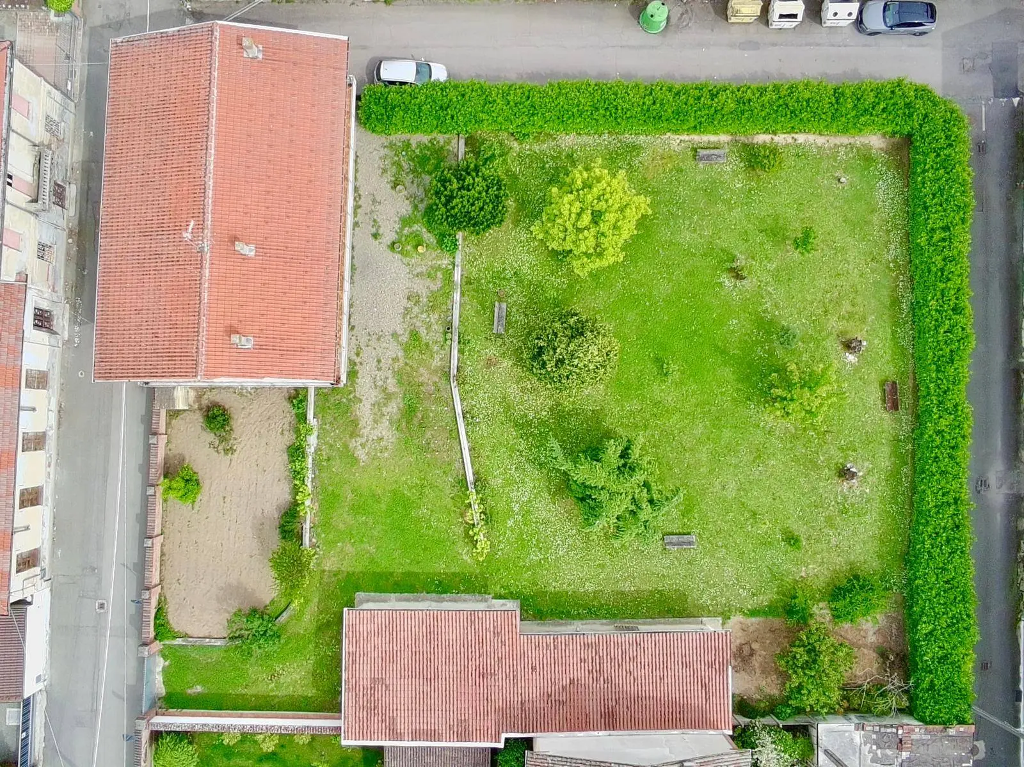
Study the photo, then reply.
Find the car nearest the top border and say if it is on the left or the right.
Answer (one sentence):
The car nearest the top border is on the right side of the image.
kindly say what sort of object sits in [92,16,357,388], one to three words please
house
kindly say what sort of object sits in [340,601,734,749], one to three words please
house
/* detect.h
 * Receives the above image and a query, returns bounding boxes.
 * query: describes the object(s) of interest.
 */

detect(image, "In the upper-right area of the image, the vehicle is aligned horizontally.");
[853,0,935,37]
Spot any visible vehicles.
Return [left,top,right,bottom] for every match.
[372,55,446,91]
[853,0,935,37]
